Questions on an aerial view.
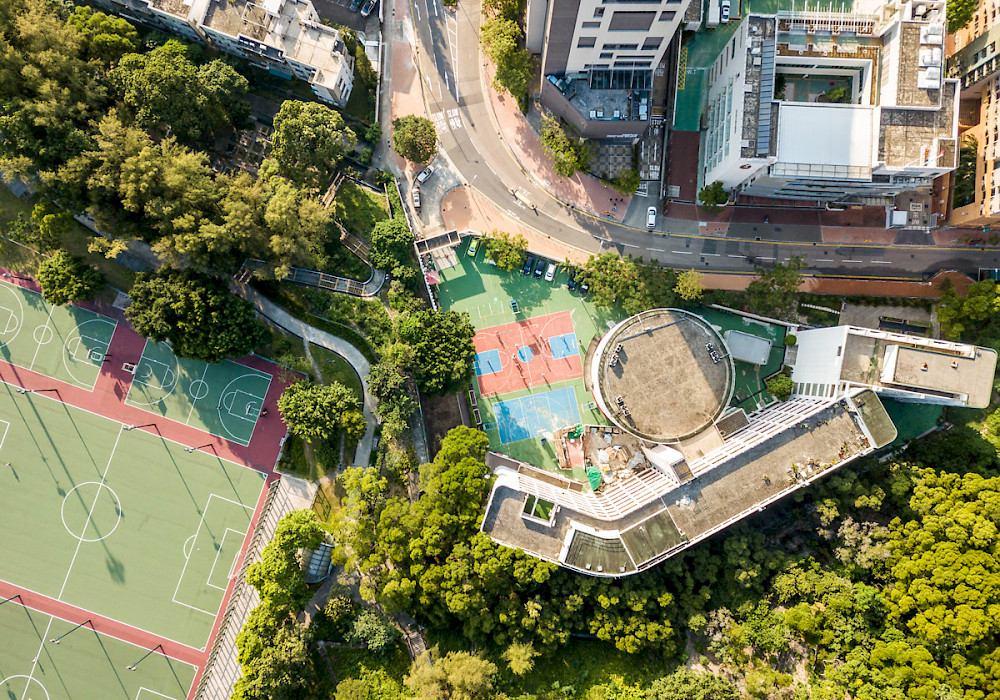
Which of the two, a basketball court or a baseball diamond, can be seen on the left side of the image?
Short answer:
basketball court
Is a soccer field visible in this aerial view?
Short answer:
Yes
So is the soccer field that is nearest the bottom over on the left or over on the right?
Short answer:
left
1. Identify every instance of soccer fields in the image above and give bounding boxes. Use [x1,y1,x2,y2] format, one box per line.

[0,380,267,653]
[0,597,197,700]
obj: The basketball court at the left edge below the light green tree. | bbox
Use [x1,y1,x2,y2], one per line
[0,280,116,391]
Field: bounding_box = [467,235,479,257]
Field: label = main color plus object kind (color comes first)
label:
green vehicle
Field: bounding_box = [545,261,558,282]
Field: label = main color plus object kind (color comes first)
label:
white vehicle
